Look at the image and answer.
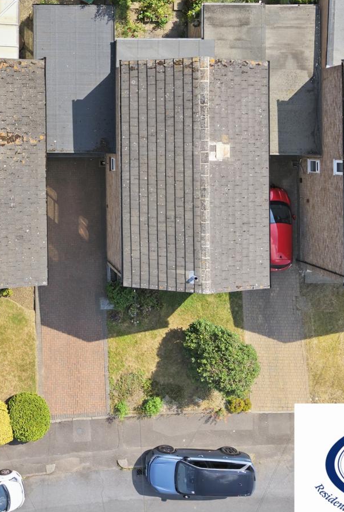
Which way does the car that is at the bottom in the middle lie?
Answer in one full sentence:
The car that is at the bottom in the middle is oriented from left to right.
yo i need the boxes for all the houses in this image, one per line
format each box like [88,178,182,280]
[299,60,344,289]
[104,36,271,296]
[0,57,49,290]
